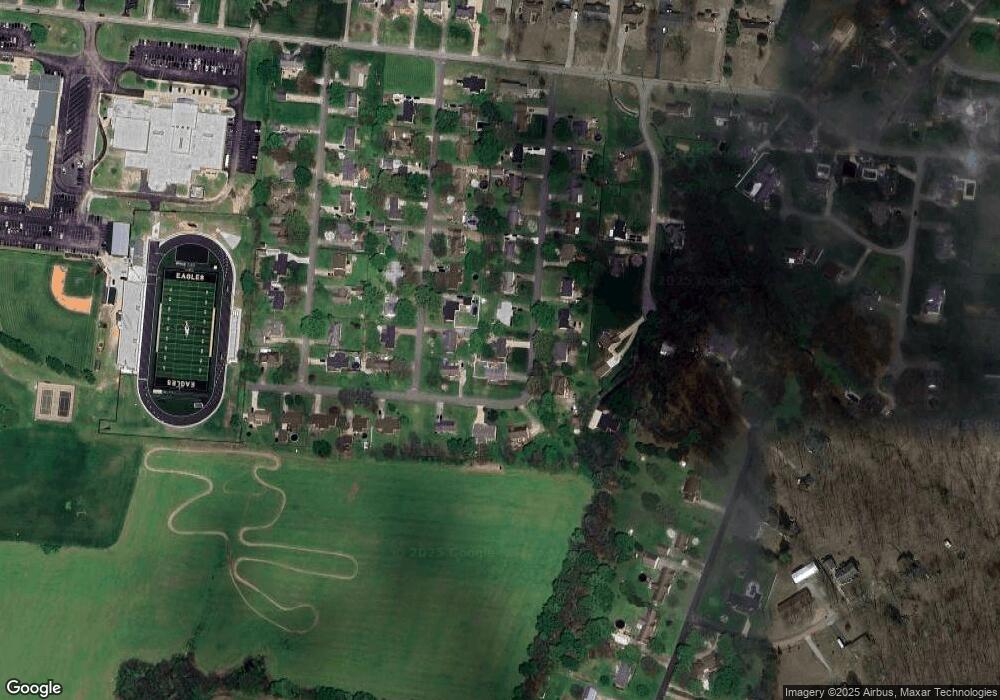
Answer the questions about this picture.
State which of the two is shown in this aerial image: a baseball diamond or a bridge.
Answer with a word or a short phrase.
baseball diamond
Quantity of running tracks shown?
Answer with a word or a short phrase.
one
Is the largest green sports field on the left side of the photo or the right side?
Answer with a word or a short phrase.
left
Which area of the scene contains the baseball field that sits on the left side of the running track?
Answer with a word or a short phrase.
left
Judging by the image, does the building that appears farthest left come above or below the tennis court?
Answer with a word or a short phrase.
above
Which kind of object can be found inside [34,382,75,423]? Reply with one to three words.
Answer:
tennis court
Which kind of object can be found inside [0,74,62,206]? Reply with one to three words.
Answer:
building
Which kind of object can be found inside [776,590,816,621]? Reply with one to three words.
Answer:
barn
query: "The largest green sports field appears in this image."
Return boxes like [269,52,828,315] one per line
[154,268,219,394]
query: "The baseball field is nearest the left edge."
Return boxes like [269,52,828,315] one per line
[52,265,92,313]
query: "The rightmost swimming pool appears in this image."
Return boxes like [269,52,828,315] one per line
[963,180,976,198]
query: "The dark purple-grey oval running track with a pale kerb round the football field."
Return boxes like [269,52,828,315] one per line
[137,232,235,429]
